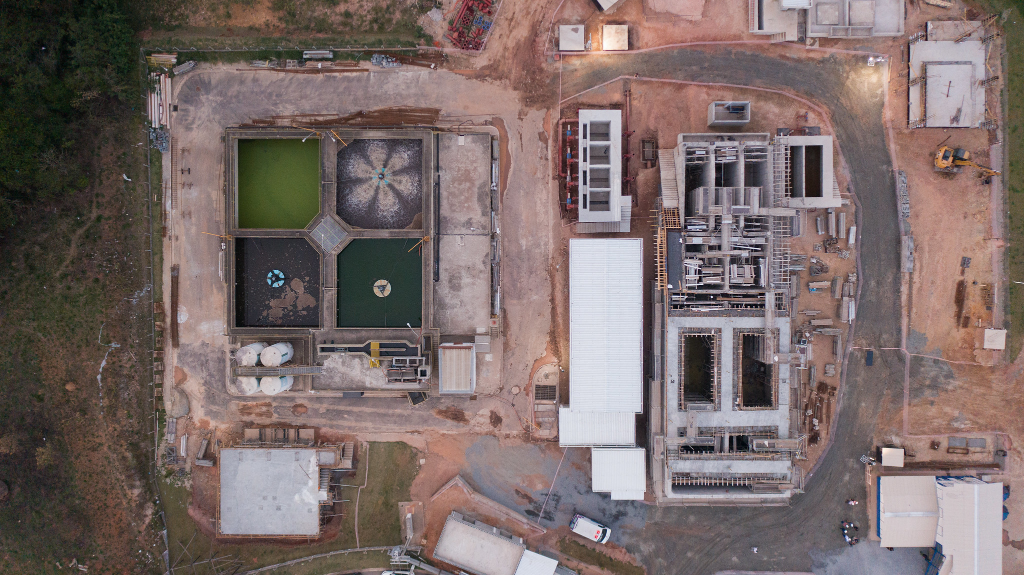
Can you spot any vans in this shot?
Yes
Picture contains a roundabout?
No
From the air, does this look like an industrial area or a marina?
industrial area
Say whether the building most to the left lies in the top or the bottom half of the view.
bottom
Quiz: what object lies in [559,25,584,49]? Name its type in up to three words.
shed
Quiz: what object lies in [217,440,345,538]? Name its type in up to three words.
building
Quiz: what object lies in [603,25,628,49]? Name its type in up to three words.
shed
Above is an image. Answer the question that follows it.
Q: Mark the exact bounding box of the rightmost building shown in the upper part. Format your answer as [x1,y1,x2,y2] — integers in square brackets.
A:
[905,8,1000,128]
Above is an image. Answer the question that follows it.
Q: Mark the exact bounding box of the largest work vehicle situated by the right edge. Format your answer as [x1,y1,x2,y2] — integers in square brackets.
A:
[929,146,1003,179]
